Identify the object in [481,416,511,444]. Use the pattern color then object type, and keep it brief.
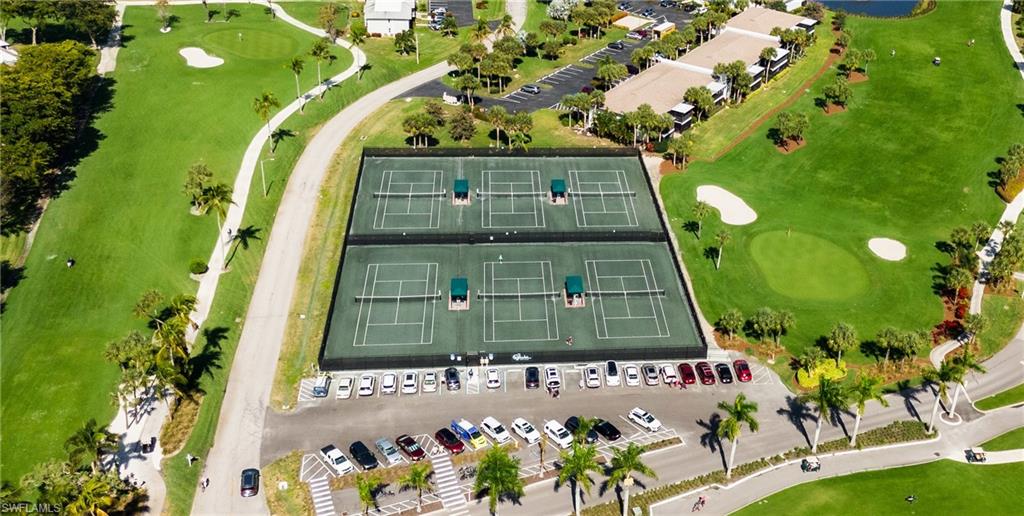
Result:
white car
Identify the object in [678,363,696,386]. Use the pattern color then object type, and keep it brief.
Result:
red car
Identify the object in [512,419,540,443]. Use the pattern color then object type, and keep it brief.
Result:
white car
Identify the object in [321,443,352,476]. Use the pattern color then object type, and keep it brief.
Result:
white truck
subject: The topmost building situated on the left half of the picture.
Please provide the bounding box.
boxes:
[361,0,419,36]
